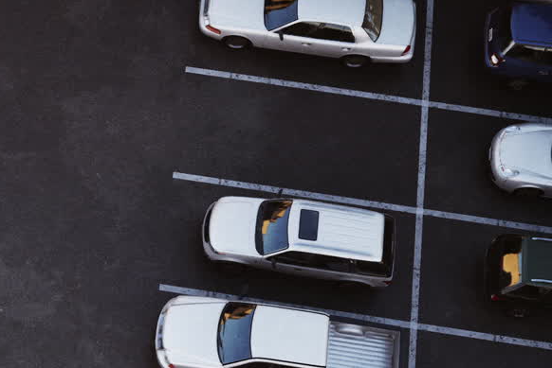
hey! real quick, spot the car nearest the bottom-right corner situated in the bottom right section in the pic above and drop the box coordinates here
[480,235,552,316]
